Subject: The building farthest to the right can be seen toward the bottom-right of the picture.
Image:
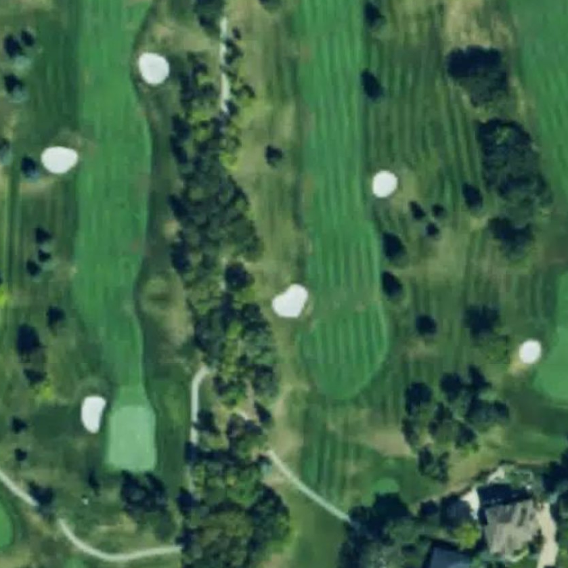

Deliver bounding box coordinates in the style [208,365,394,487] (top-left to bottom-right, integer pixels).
[483,505,542,556]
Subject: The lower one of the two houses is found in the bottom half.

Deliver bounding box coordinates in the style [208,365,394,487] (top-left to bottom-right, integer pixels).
[435,546,482,568]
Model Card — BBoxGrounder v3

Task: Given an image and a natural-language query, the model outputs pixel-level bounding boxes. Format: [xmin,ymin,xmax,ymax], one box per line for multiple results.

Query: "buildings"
[483,505,542,556]
[435,546,482,568]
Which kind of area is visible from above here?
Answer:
golf course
